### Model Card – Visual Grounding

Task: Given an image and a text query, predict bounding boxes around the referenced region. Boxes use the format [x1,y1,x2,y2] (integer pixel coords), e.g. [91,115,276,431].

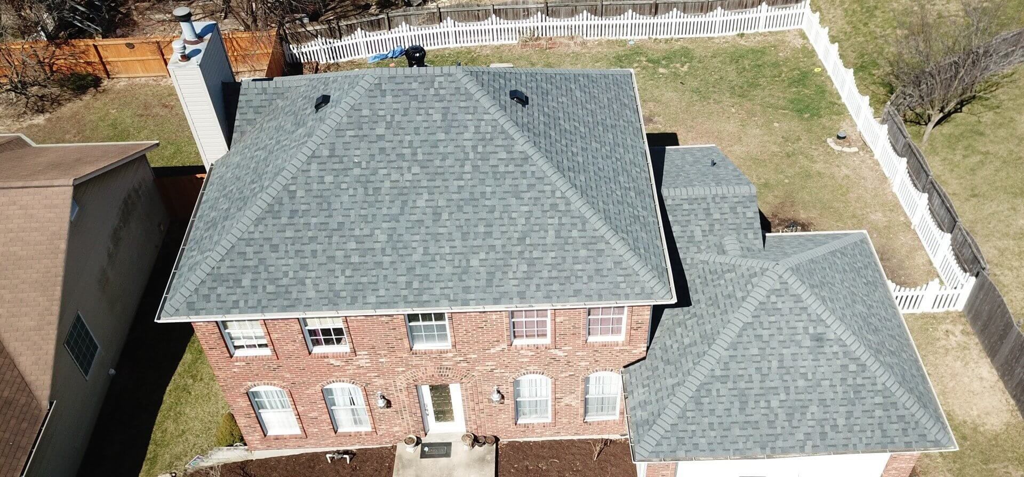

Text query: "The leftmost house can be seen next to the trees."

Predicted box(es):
[0,125,173,477]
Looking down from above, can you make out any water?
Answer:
No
